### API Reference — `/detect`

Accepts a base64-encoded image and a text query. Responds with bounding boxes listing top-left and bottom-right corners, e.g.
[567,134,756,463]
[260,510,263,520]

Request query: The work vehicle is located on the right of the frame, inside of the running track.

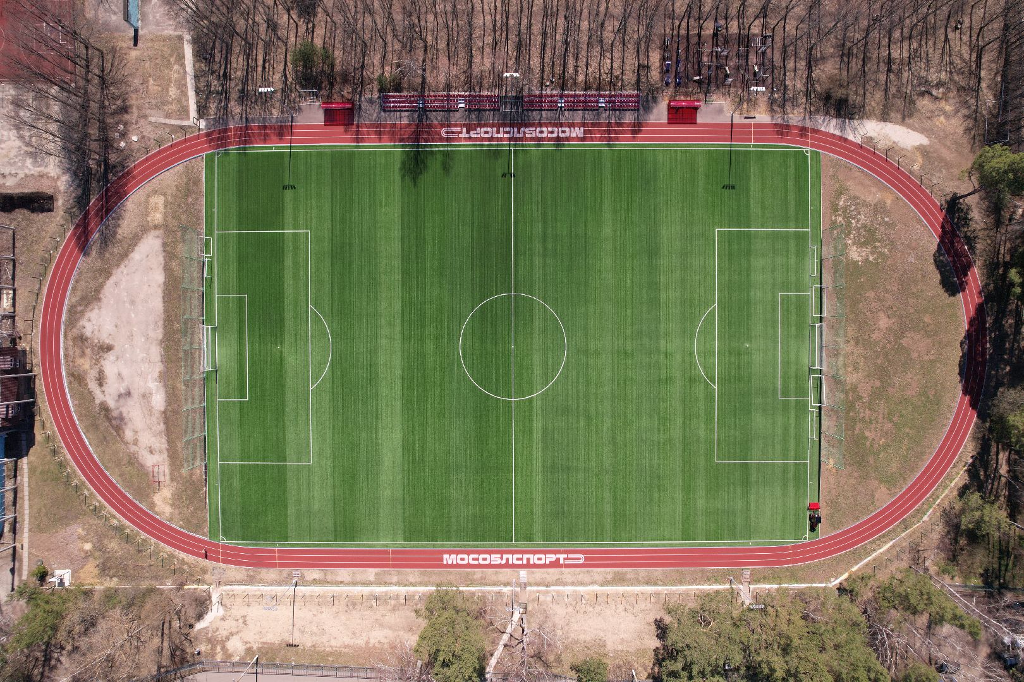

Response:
[806,504,824,530]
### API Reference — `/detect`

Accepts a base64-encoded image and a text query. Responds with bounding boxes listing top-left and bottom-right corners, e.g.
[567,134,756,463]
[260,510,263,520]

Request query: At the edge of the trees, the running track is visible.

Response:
[40,122,988,569]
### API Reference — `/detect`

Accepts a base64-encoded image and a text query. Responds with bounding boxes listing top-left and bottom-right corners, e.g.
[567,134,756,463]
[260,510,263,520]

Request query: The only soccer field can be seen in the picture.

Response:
[204,144,821,547]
